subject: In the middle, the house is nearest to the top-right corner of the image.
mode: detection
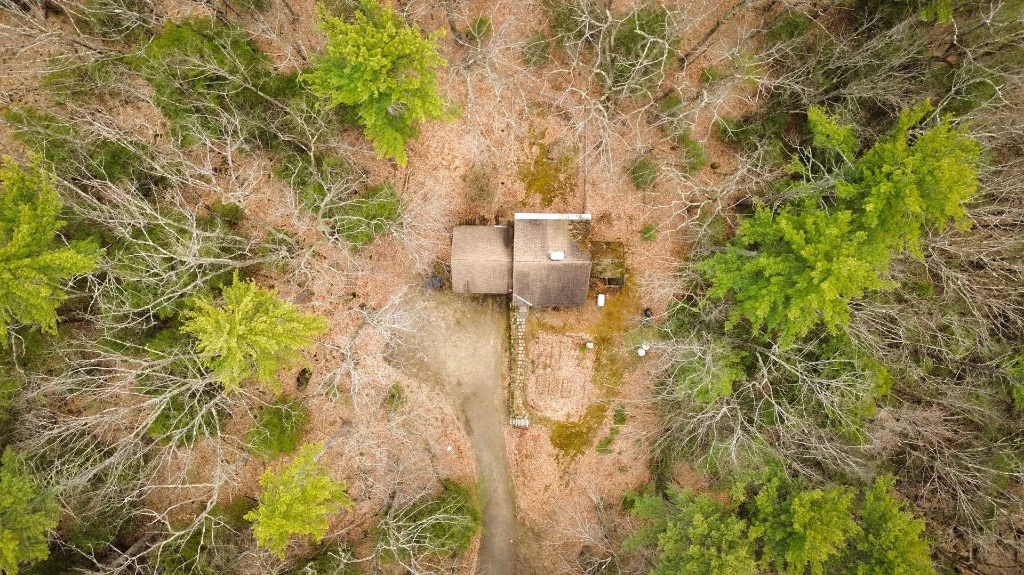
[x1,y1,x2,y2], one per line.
[513,215,592,307]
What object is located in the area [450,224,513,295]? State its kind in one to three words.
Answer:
building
